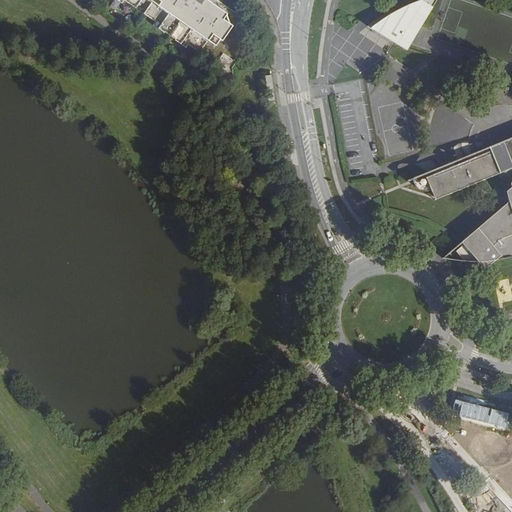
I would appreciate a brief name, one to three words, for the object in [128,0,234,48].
building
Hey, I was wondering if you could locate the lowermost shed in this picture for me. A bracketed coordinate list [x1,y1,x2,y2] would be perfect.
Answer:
[454,400,509,430]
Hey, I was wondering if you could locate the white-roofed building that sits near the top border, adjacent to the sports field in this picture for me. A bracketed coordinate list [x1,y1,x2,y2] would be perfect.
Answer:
[370,0,434,50]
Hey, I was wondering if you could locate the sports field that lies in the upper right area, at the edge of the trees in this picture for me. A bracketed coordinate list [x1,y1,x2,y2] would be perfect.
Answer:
[437,0,512,66]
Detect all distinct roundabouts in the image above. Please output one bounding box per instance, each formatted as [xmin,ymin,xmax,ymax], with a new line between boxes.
[327,257,448,381]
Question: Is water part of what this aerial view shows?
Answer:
Yes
